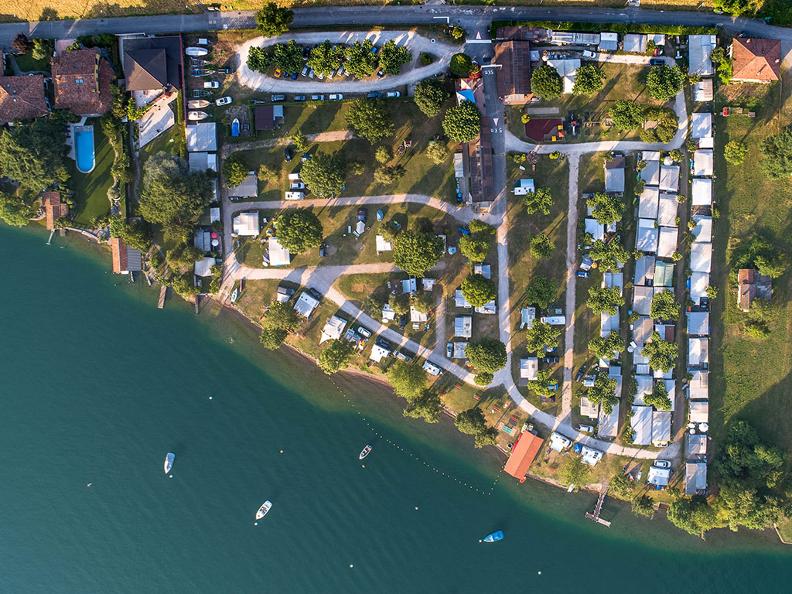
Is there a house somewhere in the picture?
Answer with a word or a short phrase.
Yes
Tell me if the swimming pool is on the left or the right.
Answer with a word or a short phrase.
left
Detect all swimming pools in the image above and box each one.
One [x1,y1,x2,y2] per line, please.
[73,125,96,172]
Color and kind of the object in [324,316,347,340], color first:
white camper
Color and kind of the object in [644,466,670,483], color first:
white camper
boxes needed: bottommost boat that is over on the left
[257,500,272,519]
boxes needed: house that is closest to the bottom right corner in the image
[684,460,706,495]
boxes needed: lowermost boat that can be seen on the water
[483,530,505,542]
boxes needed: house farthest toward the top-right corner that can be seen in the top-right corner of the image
[730,37,783,82]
